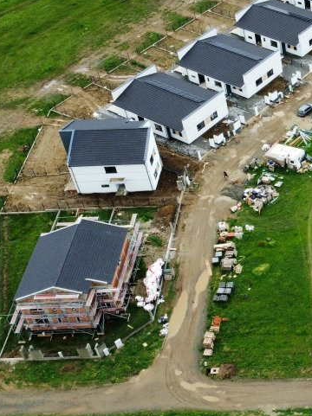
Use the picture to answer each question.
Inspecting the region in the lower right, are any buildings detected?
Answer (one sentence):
No, no building is visible in the lower right.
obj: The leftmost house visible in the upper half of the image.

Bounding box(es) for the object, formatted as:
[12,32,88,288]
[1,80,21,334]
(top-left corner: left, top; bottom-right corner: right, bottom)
[58,117,162,197]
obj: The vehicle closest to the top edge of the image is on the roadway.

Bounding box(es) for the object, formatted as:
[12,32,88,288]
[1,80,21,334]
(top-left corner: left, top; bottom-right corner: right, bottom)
[296,104,312,117]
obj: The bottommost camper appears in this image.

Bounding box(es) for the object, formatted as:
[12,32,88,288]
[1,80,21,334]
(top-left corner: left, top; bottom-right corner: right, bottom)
[264,145,312,174]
